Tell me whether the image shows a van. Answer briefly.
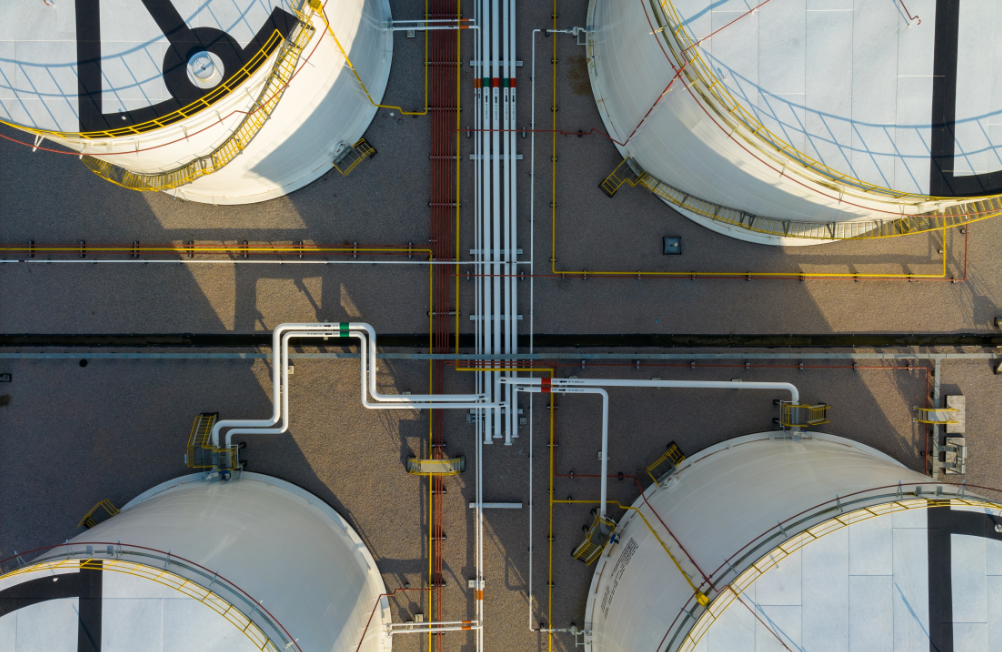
No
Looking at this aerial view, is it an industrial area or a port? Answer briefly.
industrial area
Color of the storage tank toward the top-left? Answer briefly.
white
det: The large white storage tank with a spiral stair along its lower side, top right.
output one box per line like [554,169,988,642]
[586,0,1002,246]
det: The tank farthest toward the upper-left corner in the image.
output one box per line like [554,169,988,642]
[0,0,392,205]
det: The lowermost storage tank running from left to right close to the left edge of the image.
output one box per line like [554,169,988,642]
[0,472,392,652]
